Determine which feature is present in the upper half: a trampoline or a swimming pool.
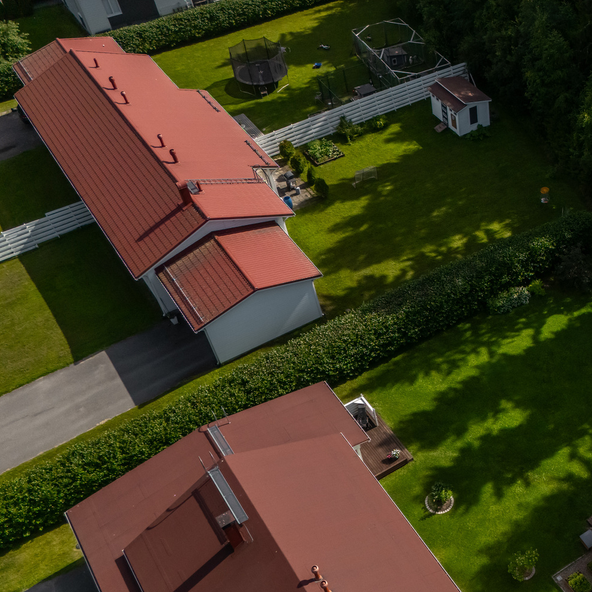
trampoline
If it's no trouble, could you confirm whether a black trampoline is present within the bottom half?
No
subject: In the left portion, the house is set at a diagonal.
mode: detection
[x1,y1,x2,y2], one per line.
[11,35,326,357]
